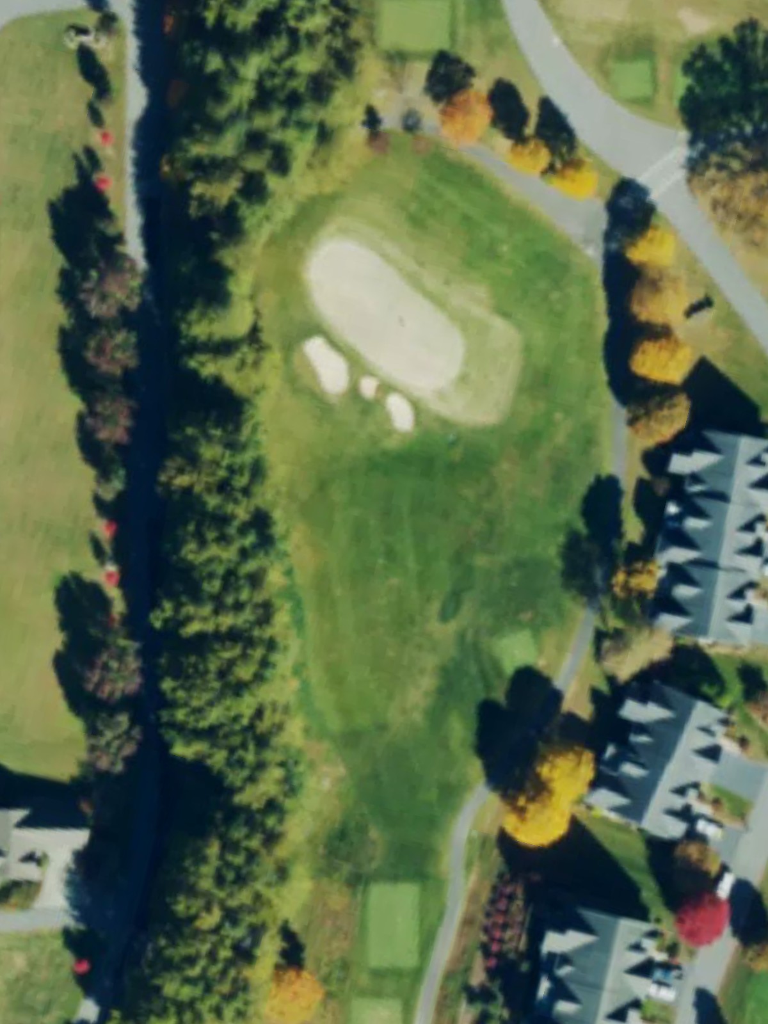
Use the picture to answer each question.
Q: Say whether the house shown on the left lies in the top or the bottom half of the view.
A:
bottom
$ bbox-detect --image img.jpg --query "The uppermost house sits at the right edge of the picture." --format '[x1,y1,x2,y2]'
[656,432,768,652]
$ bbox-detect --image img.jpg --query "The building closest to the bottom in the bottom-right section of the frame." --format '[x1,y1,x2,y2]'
[537,909,659,1024]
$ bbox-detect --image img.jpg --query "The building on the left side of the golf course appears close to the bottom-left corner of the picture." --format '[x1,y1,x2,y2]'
[0,806,91,882]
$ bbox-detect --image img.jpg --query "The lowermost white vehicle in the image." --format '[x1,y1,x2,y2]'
[652,985,676,999]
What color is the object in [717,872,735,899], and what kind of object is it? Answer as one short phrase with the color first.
white vehicle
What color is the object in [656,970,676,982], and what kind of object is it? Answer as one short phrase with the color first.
blue vehicle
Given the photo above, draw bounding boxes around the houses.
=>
[0,806,91,882]
[588,684,732,844]
[656,432,768,652]
[537,909,659,1024]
